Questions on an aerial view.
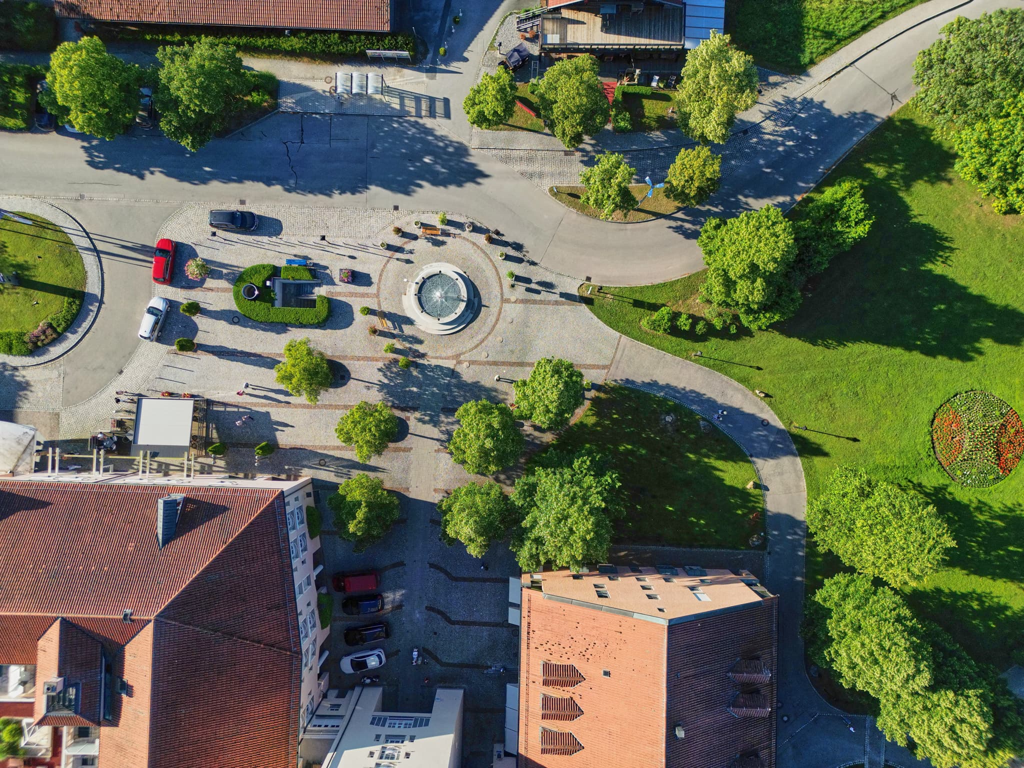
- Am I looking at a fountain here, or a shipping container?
fountain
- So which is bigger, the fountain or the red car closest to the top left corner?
the fountain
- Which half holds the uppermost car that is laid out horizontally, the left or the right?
left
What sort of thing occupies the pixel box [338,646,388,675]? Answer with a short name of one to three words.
car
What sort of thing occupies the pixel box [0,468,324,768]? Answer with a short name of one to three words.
building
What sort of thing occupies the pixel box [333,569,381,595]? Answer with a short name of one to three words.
vehicle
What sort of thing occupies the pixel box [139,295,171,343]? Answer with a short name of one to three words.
car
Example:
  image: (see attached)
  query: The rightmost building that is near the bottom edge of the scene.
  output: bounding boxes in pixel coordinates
[517,563,781,768]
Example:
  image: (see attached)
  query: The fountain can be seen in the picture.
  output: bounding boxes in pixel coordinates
[402,261,478,335]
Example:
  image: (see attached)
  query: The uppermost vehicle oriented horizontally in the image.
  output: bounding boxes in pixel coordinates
[207,209,259,233]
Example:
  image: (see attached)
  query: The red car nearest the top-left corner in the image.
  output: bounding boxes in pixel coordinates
[154,239,179,284]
